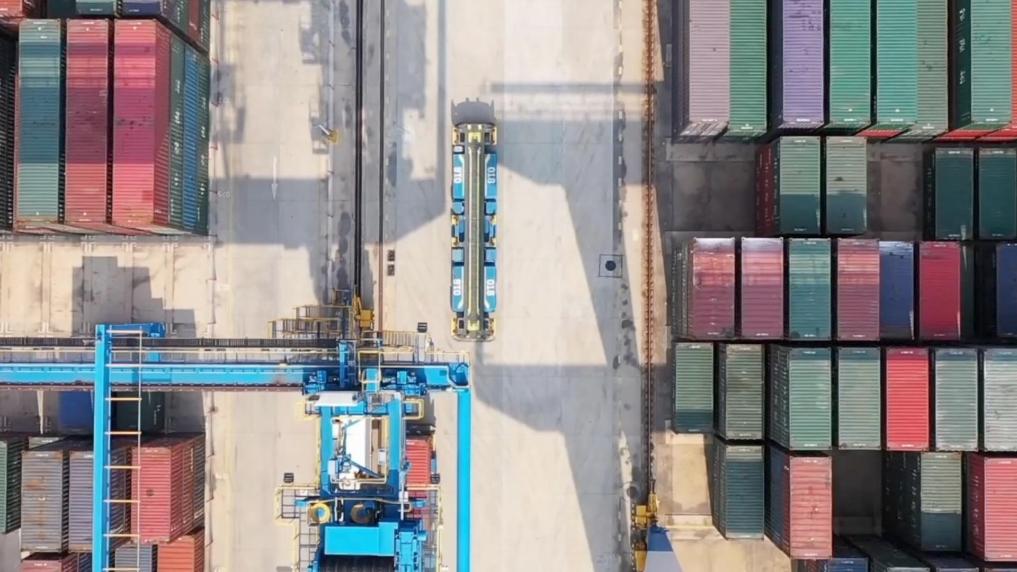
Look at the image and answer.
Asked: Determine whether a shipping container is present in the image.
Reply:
Yes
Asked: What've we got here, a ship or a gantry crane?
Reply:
gantry crane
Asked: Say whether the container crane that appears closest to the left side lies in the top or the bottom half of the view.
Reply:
bottom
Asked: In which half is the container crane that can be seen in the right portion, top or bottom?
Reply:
bottom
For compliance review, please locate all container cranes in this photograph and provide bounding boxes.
[0,280,471,572]
[630,472,683,572]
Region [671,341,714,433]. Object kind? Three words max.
shipping container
